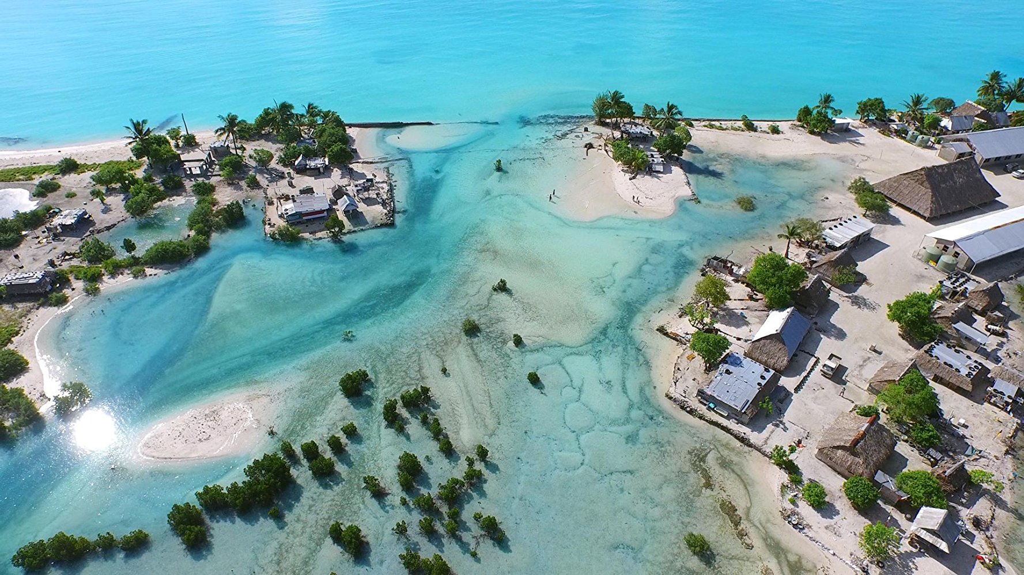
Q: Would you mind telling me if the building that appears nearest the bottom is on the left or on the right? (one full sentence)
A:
You can find the building that appears nearest the bottom on the right side of the picture.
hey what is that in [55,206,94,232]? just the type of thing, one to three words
shed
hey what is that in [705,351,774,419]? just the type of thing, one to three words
house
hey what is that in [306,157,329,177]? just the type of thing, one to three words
building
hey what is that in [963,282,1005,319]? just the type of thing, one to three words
building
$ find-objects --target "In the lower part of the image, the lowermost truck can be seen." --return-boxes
[821,349,844,376]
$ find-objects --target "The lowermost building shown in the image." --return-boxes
[910,506,964,558]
